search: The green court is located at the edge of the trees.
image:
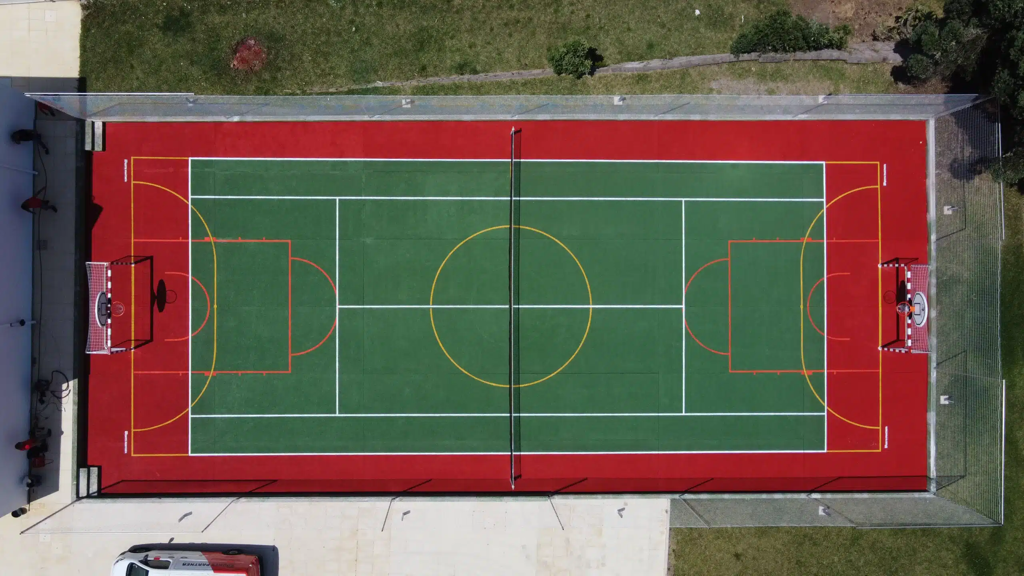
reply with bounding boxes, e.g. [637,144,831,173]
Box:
[84,119,927,496]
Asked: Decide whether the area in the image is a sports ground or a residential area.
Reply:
sports ground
